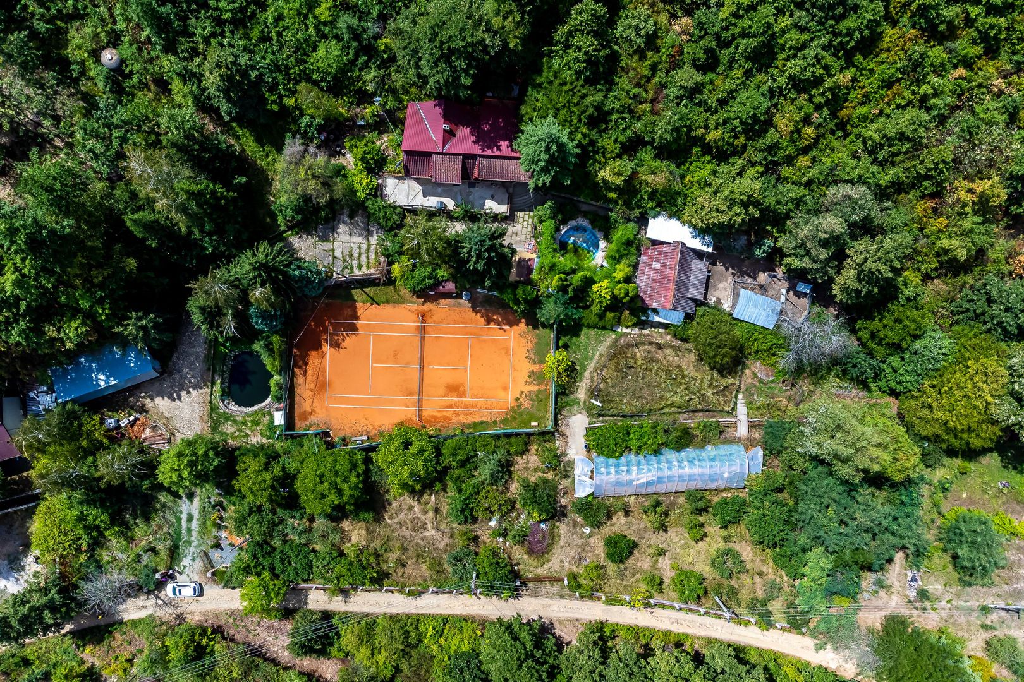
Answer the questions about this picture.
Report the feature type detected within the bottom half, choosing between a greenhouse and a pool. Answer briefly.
greenhouse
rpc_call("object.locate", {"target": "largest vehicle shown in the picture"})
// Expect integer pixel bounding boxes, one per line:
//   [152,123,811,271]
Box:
[164,582,201,601]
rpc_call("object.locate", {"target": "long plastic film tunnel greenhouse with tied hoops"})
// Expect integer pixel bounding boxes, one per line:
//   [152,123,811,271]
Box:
[575,443,762,497]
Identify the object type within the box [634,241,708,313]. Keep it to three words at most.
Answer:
barn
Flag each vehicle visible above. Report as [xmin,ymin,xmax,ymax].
[164,582,201,601]
[157,573,176,583]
